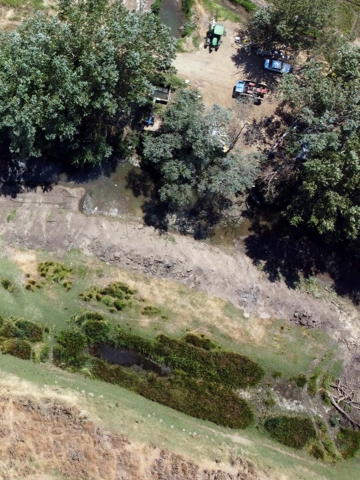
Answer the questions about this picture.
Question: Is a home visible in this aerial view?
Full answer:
No, the picture doesn't show any home.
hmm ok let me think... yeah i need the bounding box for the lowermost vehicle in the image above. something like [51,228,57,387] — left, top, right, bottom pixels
[243,81,272,99]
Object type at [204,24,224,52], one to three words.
work vehicle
